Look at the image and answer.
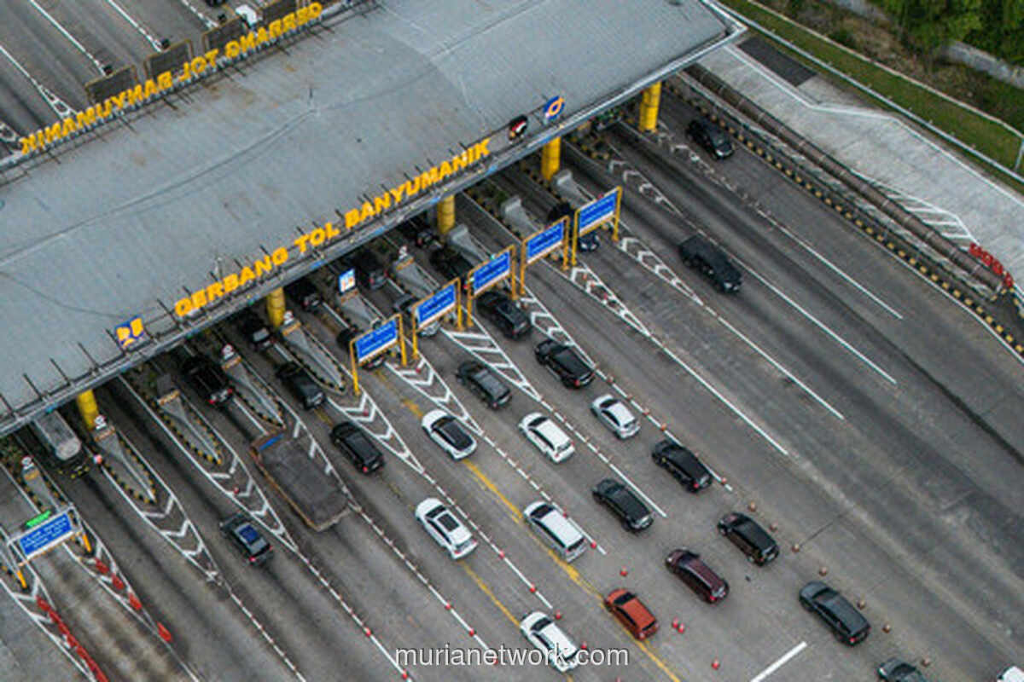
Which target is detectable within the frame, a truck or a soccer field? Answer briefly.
truck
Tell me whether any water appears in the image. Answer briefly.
No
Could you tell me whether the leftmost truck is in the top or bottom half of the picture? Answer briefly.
bottom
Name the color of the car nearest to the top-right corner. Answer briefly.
black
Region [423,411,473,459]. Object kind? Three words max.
car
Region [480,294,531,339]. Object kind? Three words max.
car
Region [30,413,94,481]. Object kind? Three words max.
truck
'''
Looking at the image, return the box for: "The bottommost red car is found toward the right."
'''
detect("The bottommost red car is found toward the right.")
[606,591,658,641]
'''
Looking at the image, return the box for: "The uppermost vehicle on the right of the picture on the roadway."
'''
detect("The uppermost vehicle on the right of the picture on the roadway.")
[685,115,733,157]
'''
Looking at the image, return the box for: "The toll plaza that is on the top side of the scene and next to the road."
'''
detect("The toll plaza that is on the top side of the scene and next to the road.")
[0,0,745,441]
